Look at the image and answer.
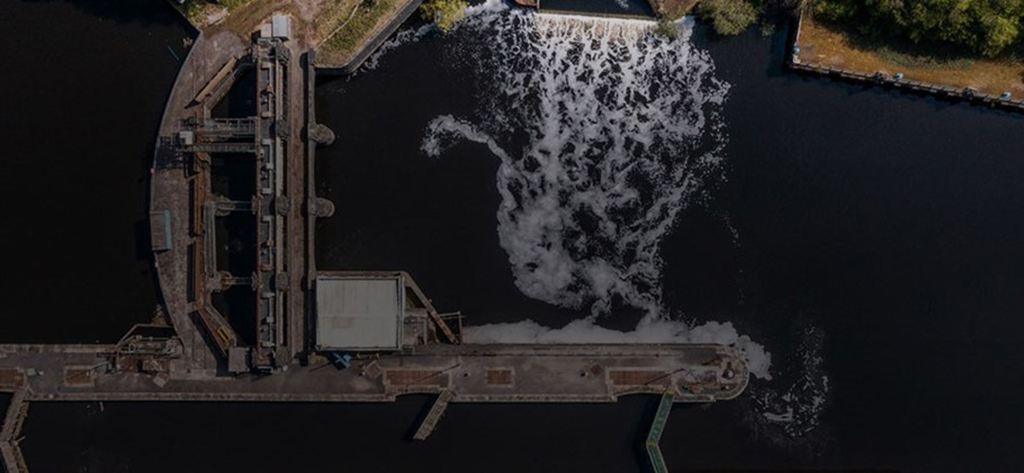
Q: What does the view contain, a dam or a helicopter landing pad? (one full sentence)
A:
There is a dam in the scene.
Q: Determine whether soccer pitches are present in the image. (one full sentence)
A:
No, the photo shows no soccer pitch.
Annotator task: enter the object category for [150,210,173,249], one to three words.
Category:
shed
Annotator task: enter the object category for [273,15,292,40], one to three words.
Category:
building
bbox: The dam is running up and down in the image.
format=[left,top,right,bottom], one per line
[228,37,338,371]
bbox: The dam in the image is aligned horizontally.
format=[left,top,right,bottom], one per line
[514,0,666,41]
